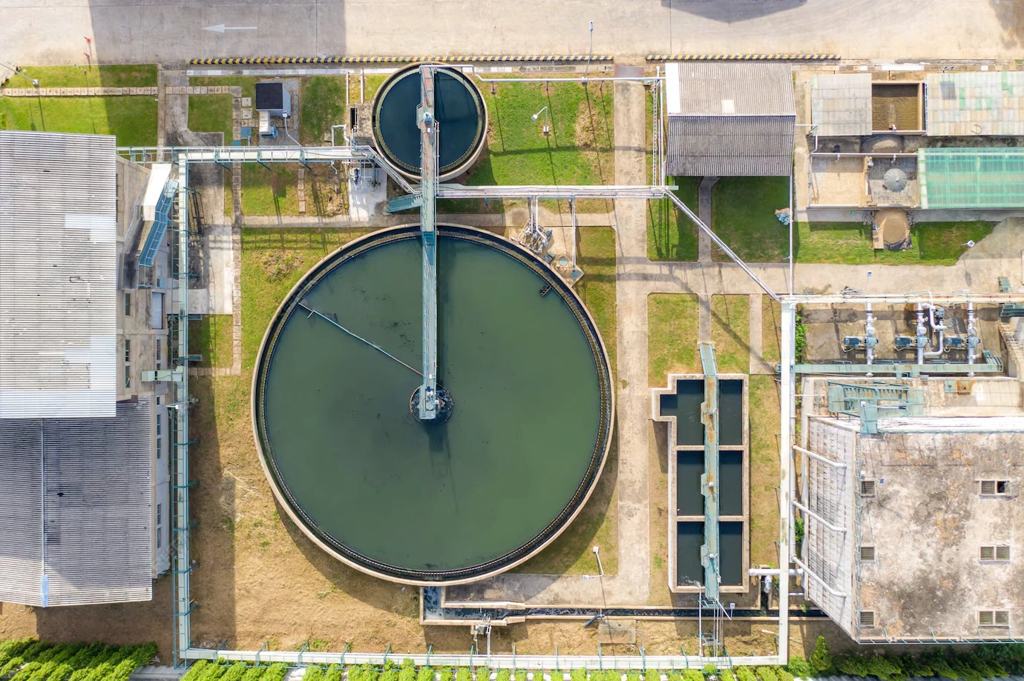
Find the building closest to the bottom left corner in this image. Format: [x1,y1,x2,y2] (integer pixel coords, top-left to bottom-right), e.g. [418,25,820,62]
[0,396,171,608]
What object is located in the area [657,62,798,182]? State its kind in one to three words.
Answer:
shed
